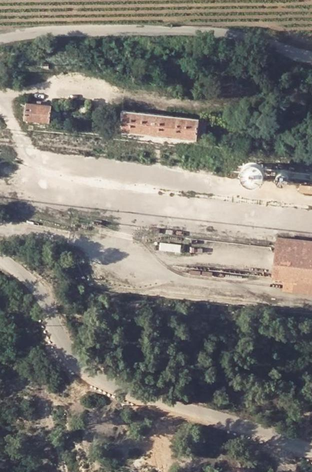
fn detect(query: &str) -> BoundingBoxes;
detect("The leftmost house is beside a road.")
[24,102,51,124]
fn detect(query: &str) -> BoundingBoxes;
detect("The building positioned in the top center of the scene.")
[120,110,198,142]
